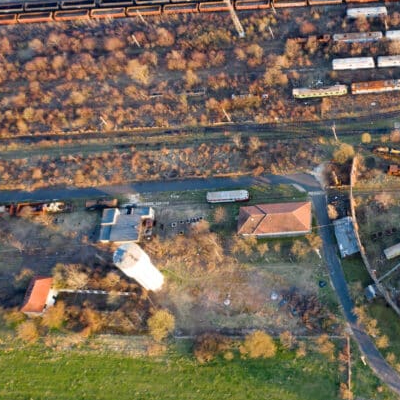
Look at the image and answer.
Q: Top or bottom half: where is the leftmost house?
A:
bottom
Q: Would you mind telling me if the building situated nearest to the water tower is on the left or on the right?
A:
left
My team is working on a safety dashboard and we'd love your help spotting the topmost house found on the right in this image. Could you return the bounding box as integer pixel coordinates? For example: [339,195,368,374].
[239,202,313,238]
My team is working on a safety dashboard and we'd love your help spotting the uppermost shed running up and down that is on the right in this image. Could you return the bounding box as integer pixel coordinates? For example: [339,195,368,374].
[334,216,359,261]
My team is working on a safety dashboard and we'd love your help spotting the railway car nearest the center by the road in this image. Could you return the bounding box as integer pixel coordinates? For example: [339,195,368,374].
[208,192,252,207]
